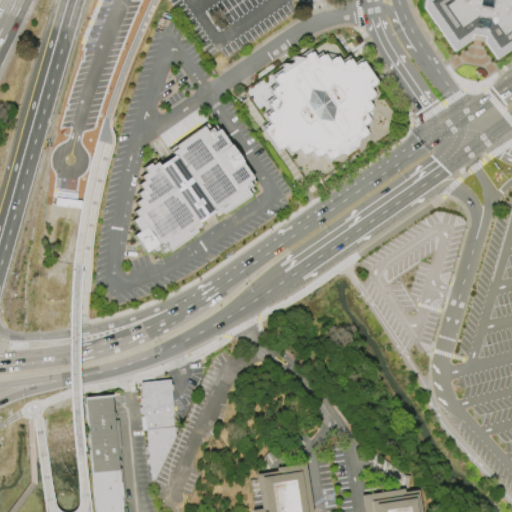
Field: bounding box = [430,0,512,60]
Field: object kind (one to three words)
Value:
building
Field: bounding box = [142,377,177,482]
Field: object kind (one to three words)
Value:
shed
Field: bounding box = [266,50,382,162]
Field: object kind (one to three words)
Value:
building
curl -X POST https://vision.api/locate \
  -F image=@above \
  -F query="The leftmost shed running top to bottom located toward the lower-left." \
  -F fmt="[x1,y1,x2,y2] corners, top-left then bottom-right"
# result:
[86,395,124,512]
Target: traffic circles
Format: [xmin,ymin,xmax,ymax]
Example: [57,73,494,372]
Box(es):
[52,139,90,198]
